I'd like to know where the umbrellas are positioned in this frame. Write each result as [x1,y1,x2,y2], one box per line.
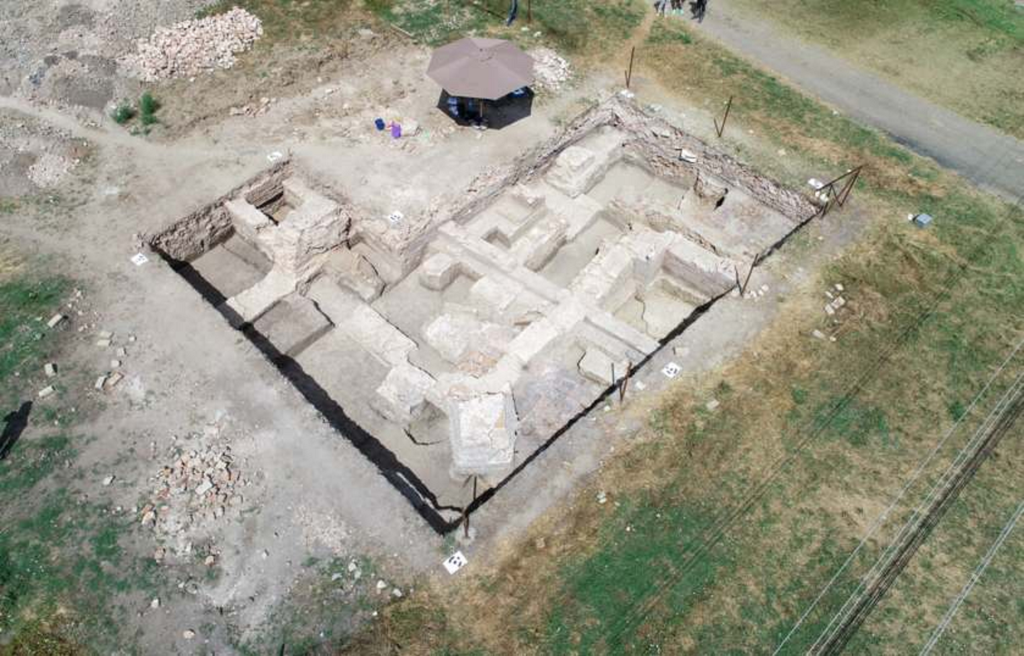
[424,36,537,133]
